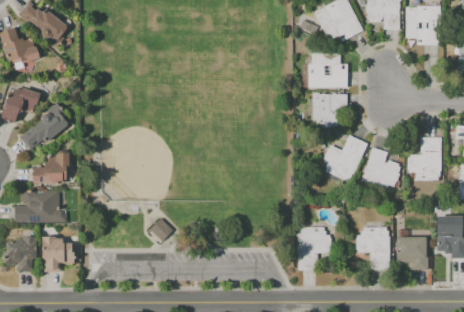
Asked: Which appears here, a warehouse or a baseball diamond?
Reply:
baseball diamond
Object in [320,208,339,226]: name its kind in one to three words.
swimming pool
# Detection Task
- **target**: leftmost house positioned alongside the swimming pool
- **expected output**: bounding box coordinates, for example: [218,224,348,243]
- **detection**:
[300,226,332,270]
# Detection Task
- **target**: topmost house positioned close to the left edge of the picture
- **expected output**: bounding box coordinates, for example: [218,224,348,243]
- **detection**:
[18,0,72,44]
